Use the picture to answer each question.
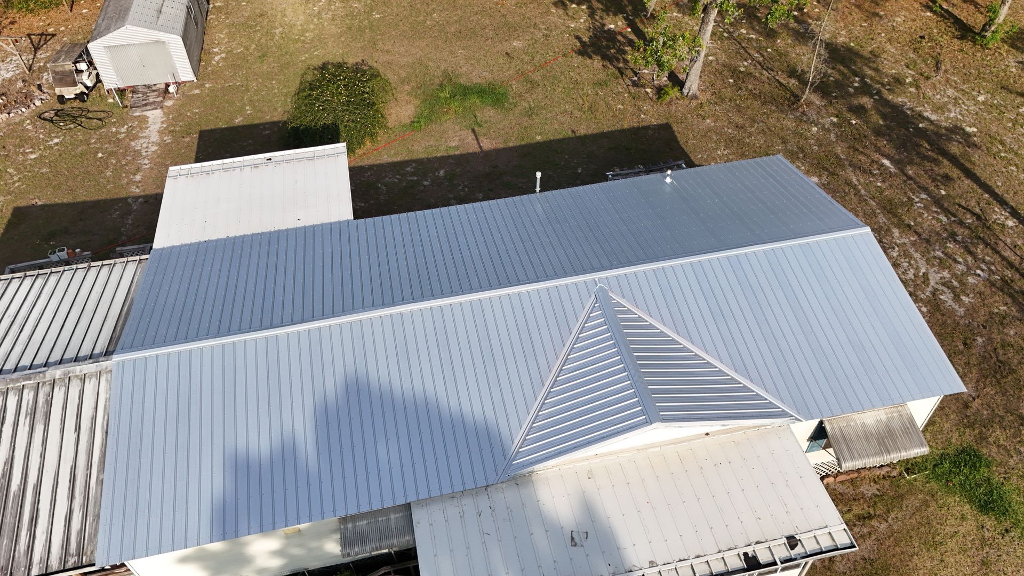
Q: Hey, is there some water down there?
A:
No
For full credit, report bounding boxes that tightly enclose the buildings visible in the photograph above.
[95,152,968,576]
[84,0,214,88]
